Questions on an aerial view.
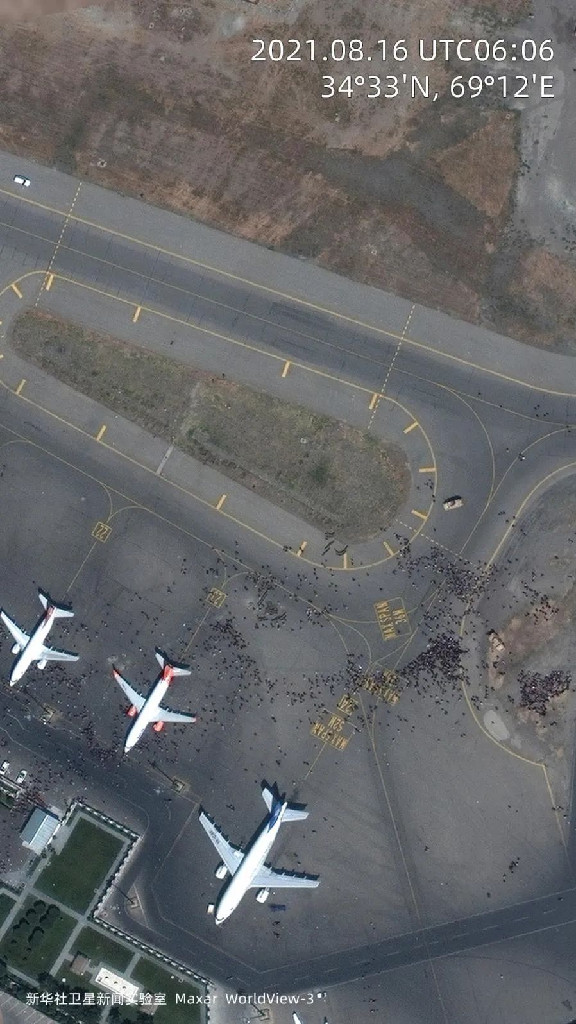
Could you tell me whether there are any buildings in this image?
Yes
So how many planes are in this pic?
3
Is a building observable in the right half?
No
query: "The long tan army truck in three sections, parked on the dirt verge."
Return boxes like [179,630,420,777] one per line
[487,630,509,655]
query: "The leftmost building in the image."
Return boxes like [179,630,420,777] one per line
[20,807,63,854]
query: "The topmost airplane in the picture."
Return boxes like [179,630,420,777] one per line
[2,594,77,686]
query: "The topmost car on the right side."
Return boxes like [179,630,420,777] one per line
[444,496,463,509]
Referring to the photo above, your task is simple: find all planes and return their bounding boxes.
[199,787,319,922]
[113,653,196,752]
[2,594,77,686]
